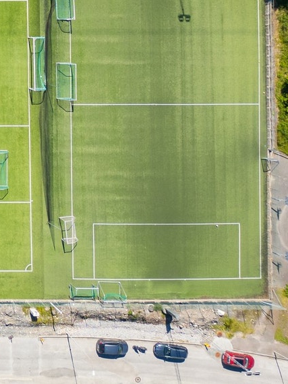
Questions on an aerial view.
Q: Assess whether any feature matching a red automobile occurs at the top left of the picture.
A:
No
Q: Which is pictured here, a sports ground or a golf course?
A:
sports ground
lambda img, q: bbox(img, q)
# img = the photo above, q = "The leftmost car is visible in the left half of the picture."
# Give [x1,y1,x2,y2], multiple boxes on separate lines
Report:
[94,339,128,357]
